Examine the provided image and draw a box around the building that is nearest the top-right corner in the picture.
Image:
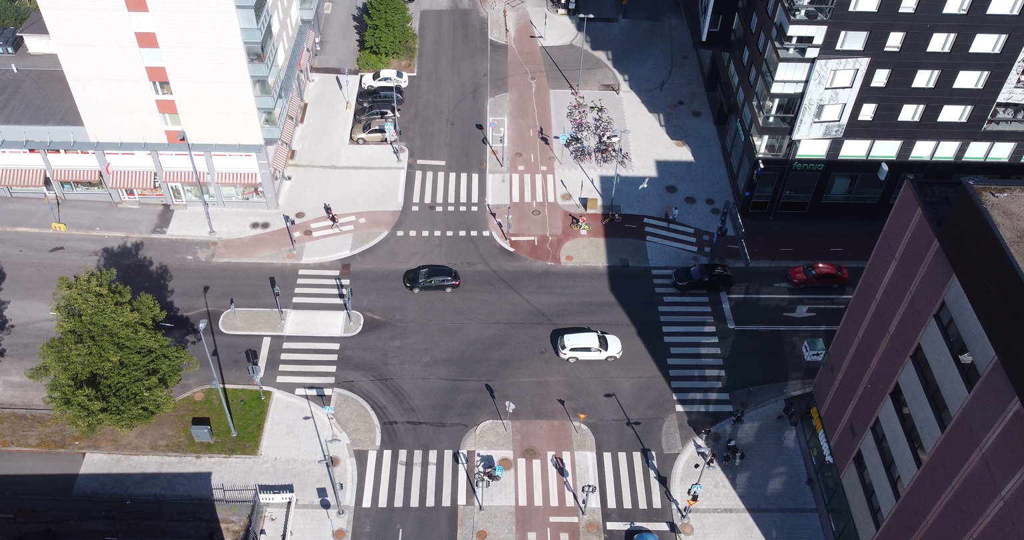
[683,0,1024,213]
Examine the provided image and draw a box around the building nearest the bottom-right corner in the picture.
[801,177,1024,540]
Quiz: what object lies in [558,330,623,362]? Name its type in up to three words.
car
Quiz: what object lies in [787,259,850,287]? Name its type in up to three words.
car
